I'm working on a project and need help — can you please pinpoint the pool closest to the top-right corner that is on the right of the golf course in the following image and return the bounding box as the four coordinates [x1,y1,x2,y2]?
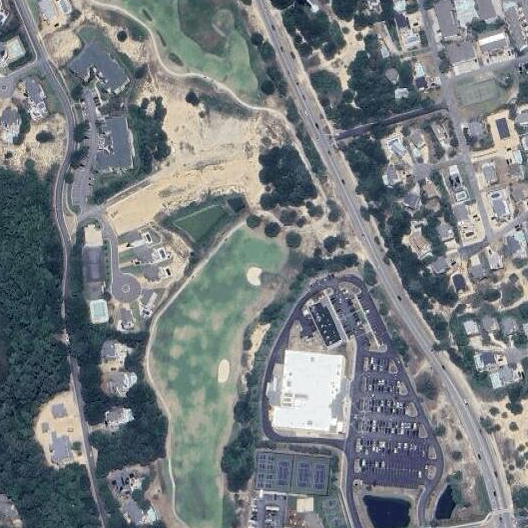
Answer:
[459,4,471,22]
